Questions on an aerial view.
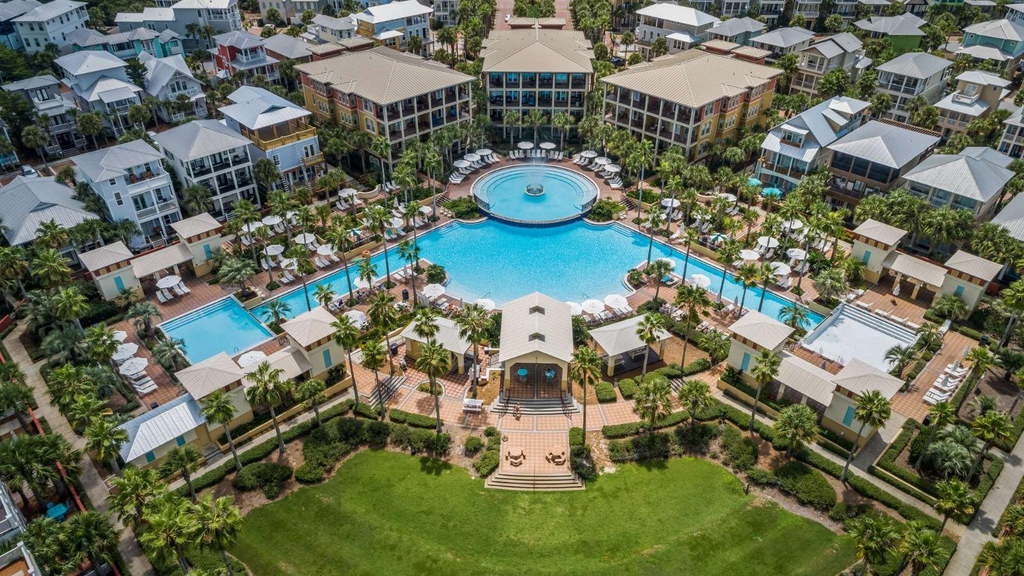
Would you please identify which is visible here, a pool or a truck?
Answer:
pool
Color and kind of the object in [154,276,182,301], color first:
white umbrella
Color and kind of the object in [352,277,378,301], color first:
white umbrella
